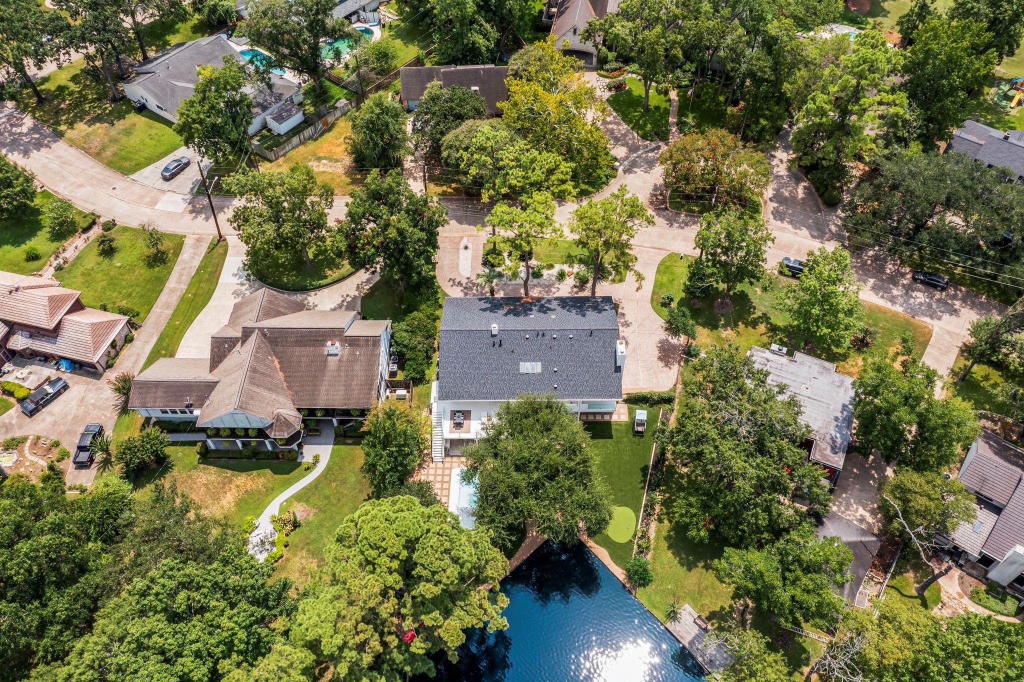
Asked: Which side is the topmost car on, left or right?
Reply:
left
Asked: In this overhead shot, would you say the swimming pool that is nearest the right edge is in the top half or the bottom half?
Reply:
bottom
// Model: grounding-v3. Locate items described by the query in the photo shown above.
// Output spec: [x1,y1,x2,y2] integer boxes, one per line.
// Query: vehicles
[915,271,951,291]
[159,158,191,179]
[780,258,813,278]
[69,425,100,466]
[17,380,65,416]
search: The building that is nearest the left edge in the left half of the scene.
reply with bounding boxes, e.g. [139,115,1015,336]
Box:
[0,257,130,382]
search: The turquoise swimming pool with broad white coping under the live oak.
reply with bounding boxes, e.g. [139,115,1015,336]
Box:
[449,469,507,532]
